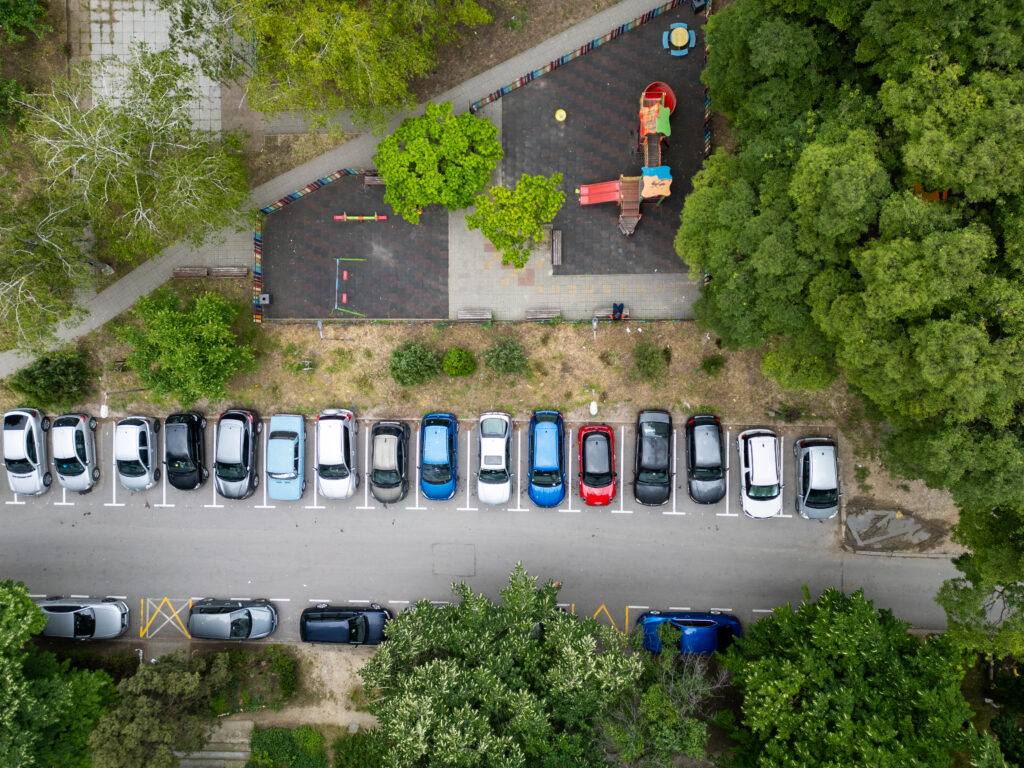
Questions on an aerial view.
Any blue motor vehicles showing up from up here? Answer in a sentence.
Yes, the image includes a blue motor vehicle.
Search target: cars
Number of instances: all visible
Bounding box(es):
[416,413,459,500]
[162,412,208,489]
[525,410,569,507]
[113,416,160,491]
[185,599,278,645]
[37,597,130,644]
[473,412,515,505]
[575,424,620,507]
[637,608,742,656]
[299,603,394,650]
[263,414,306,500]
[1,408,52,495]
[212,409,262,499]
[313,409,359,499]
[685,414,731,504]
[50,413,99,491]
[737,428,785,518]
[632,409,677,507]
[795,436,843,521]
[367,421,410,503]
